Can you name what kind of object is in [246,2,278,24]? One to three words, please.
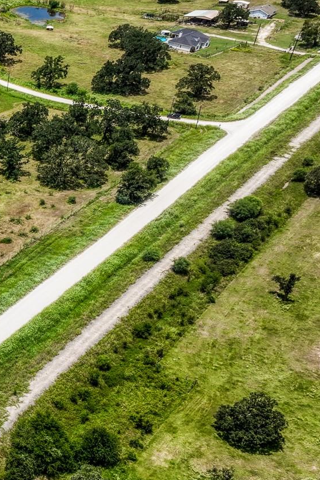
house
